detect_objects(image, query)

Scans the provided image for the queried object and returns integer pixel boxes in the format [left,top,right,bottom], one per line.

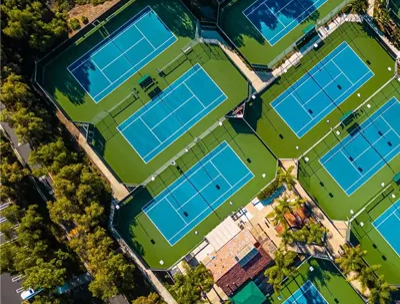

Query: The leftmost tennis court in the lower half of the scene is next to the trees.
[116,116,277,270]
